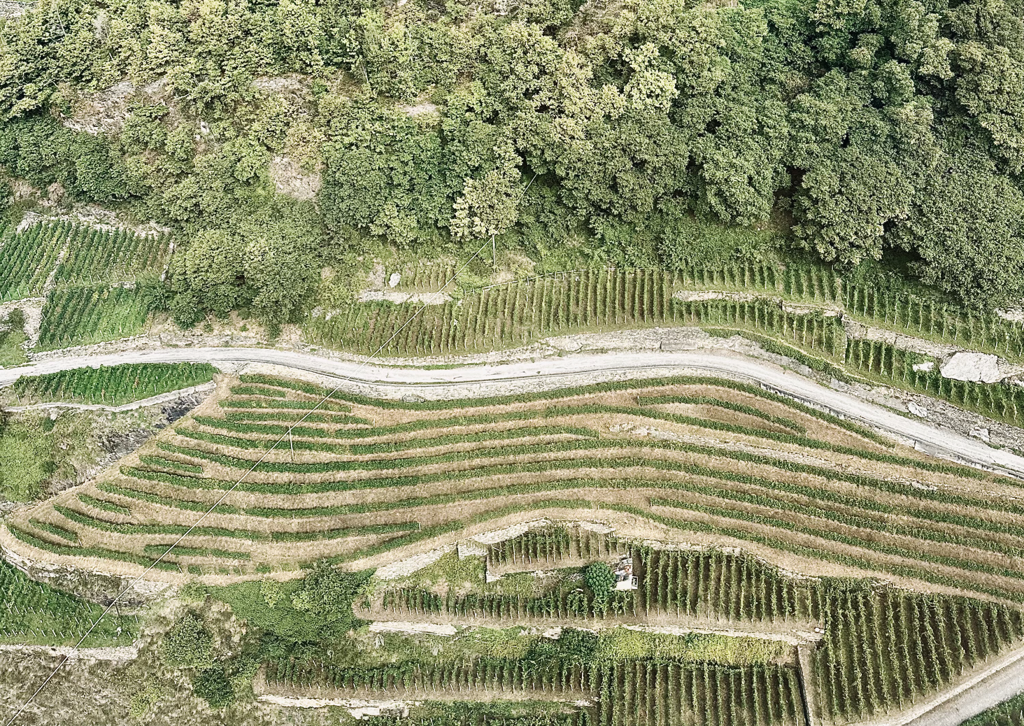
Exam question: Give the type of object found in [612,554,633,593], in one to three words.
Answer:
shed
